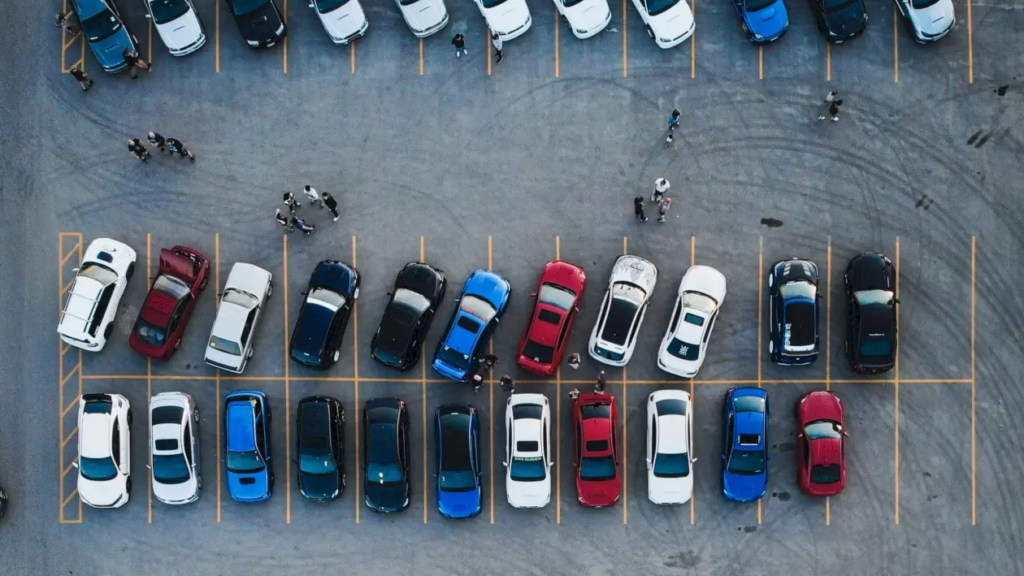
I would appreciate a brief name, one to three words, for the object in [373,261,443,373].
car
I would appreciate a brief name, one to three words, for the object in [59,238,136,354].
car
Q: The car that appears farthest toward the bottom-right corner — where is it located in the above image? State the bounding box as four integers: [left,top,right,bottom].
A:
[797,391,853,497]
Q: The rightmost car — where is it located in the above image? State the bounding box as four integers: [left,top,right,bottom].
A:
[903,0,957,45]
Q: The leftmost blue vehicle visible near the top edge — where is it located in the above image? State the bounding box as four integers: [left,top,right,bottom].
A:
[55,0,131,79]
